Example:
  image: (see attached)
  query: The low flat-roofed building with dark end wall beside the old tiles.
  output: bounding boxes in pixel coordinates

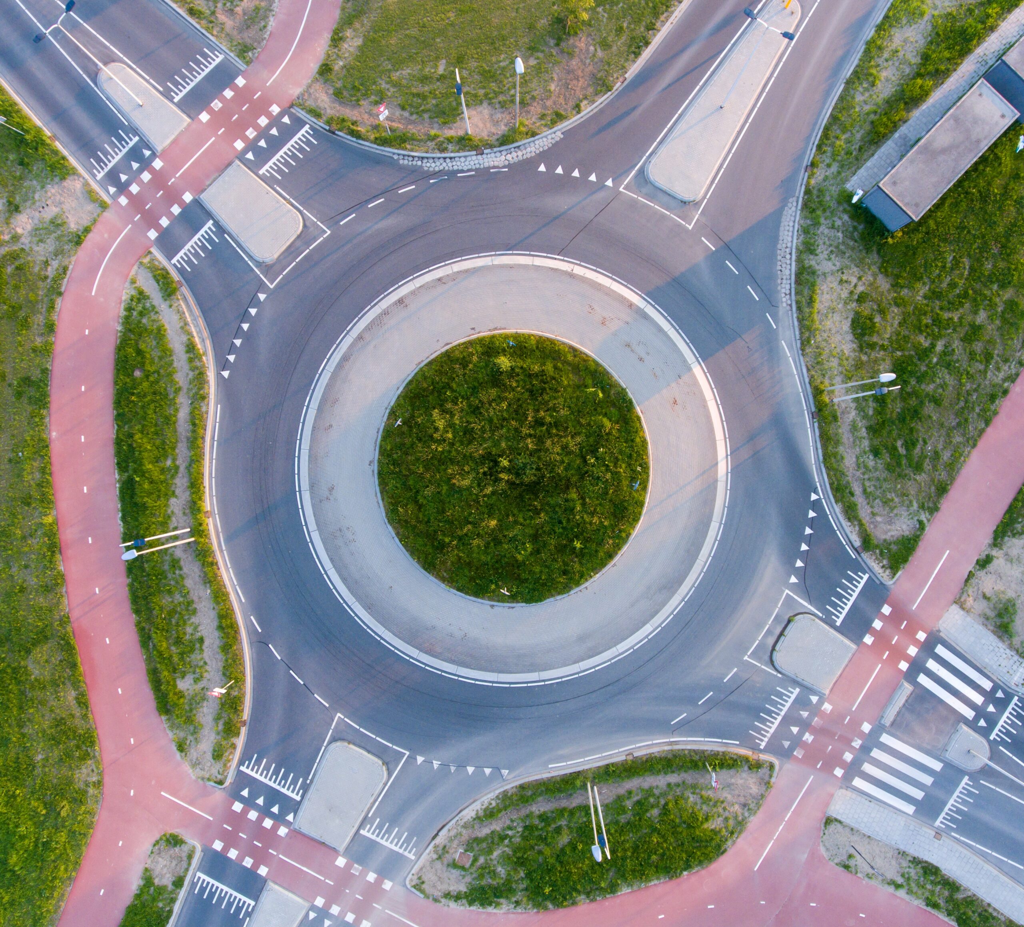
[863,78,1020,232]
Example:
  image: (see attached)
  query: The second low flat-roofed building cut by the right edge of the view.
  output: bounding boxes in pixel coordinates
[985,35,1024,107]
